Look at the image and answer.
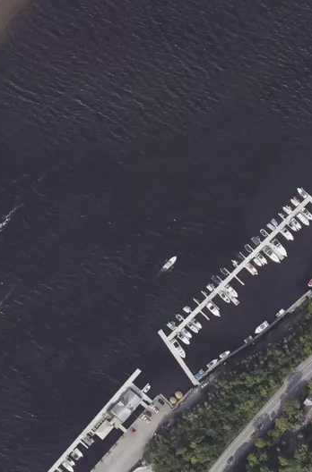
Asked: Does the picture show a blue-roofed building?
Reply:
No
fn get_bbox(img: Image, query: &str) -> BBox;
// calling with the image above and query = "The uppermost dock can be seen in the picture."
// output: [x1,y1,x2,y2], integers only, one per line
[158,193,312,385]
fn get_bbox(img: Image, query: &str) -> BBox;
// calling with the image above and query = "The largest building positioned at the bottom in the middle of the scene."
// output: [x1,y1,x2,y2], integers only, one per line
[108,387,144,424]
